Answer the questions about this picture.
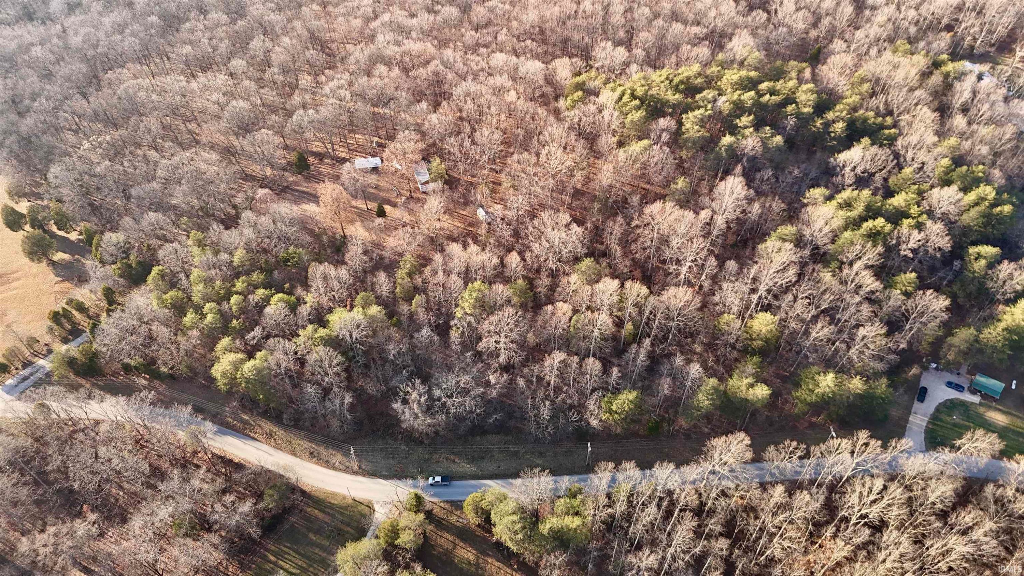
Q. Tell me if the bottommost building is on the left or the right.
right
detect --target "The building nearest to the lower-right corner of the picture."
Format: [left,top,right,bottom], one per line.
[969,374,1003,403]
